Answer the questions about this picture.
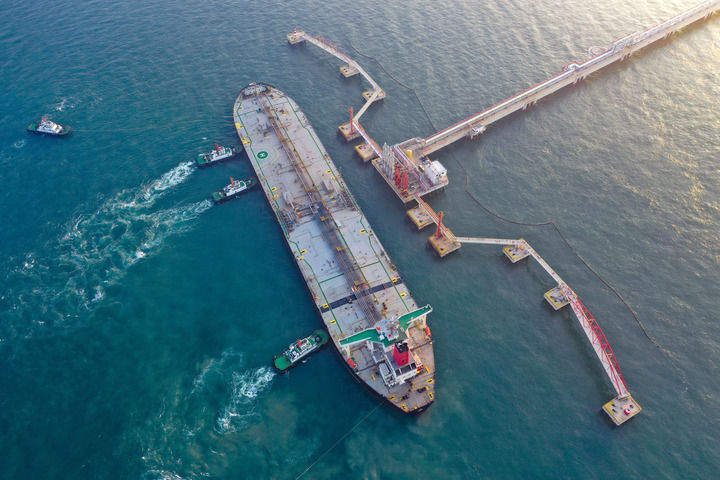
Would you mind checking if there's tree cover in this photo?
No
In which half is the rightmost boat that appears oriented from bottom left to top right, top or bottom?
bottom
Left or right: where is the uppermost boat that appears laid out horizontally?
left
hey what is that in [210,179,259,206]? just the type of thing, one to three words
boat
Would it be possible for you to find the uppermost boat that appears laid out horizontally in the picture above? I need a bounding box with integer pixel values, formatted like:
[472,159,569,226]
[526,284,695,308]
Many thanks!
[25,114,70,137]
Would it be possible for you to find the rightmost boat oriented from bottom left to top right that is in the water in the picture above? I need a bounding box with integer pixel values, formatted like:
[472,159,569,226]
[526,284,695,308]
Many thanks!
[271,332,328,373]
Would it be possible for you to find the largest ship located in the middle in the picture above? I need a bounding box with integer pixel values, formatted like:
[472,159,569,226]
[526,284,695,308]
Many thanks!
[233,77,435,419]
